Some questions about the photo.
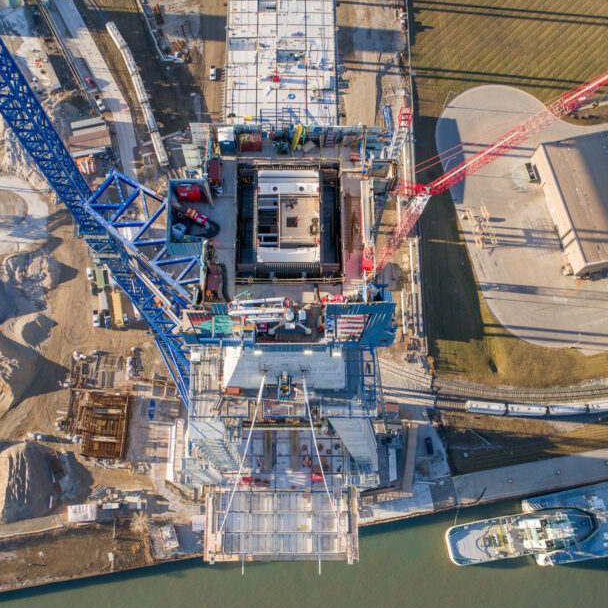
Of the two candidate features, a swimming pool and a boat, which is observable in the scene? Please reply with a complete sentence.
Looking from above, you can make out a boat.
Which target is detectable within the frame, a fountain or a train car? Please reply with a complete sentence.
I can see a train car in this picture.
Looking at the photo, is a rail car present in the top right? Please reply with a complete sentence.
No, there is no rail car in the top right.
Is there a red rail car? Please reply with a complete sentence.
No, I can see no red rail car in this picture.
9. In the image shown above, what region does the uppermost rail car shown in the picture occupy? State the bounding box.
[105,23,128,52]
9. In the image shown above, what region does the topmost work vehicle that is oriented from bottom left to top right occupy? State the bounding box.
[152,39,170,54]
